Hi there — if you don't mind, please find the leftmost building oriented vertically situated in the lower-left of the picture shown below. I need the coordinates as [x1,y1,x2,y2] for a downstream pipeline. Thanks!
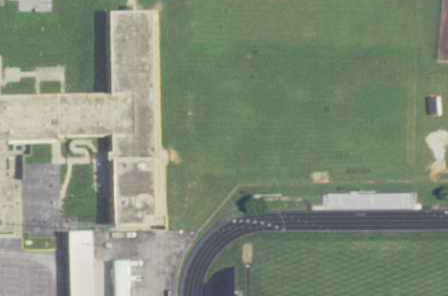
[68,231,96,296]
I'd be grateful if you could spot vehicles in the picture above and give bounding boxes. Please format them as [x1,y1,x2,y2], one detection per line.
[130,260,143,266]
[112,232,135,238]
[130,276,142,280]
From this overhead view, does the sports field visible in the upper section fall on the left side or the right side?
right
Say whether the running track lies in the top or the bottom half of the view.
bottom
